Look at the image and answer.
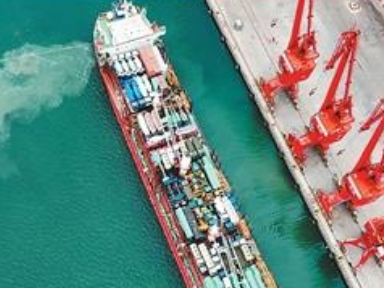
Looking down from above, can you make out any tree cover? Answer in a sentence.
No, the picture contains no tree cover.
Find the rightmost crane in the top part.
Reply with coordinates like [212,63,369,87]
[284,26,365,163]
